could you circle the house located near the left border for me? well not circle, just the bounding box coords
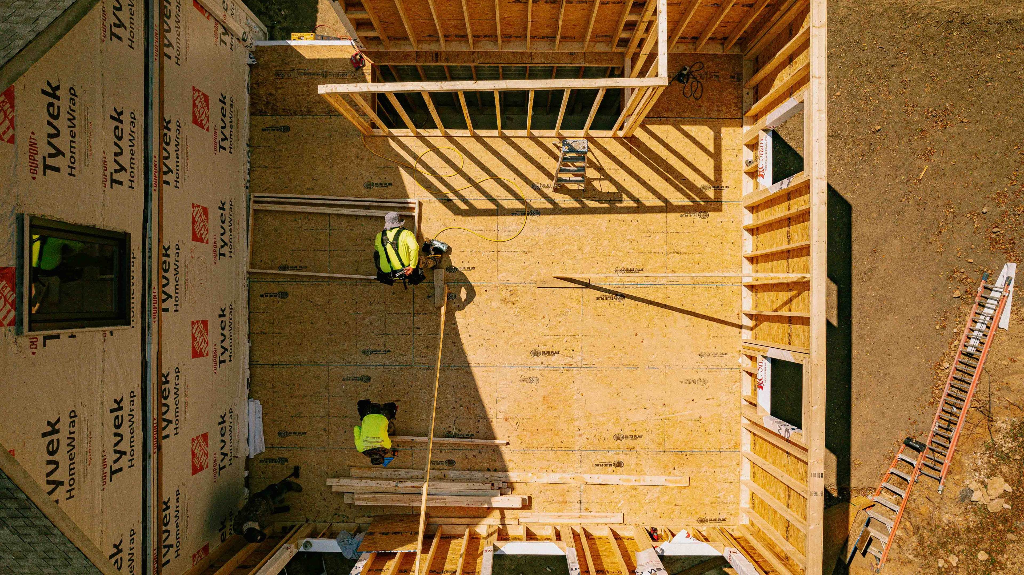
[0,0,275,575]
